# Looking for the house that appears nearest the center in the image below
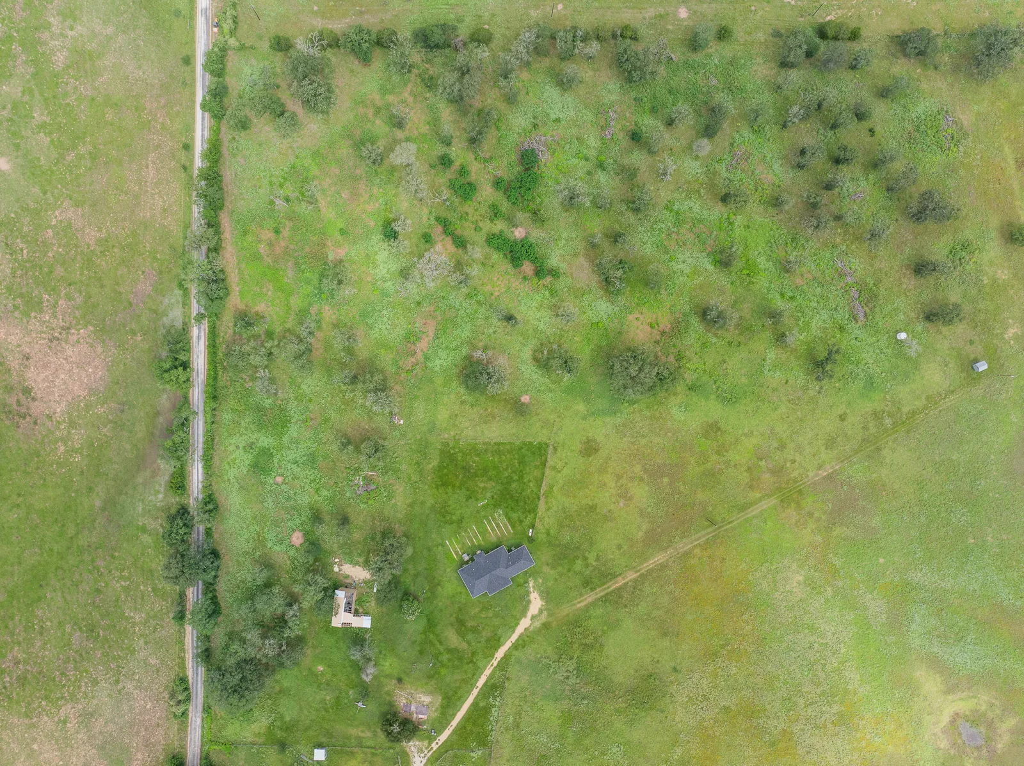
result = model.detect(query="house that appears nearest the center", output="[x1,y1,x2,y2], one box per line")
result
[457,544,536,599]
